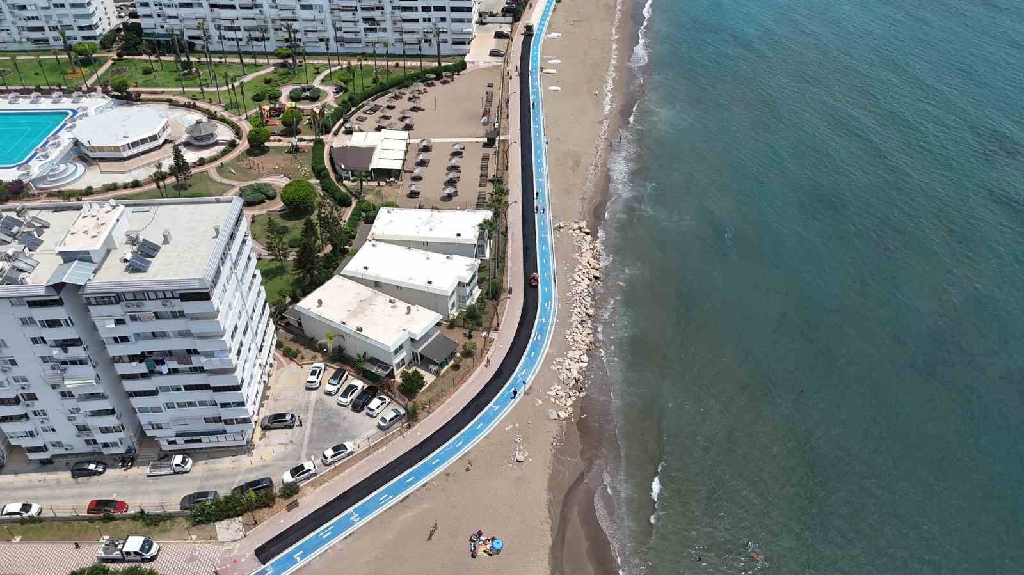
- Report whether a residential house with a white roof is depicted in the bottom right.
No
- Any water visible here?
Yes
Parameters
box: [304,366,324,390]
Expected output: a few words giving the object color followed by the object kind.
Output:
white car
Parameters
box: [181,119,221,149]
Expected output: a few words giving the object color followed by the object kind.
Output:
gray gazebo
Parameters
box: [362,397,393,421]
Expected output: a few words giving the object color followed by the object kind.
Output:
white car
